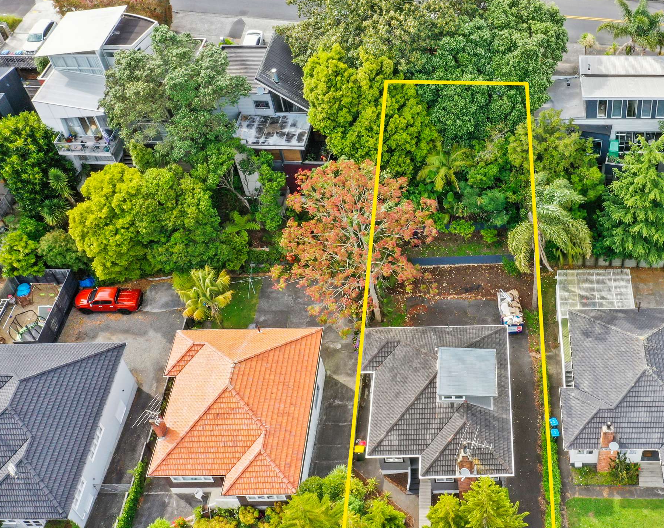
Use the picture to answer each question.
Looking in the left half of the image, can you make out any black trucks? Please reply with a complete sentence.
No, I see no black truck in the left half of the image.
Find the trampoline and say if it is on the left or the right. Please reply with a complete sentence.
The trampoline is on the left side of the image.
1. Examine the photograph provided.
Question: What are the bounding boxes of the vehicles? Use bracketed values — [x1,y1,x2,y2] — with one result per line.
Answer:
[18,17,60,54]
[239,28,266,46]
[71,283,149,314]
